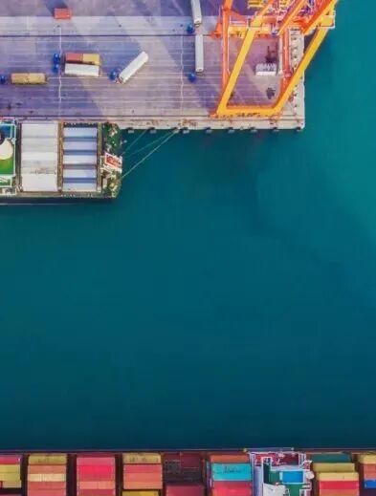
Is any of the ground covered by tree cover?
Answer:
No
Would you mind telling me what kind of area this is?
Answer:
port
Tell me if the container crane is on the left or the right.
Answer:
right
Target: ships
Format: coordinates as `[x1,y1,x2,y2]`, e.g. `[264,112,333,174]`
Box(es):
[0,114,123,201]
[0,441,376,496]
